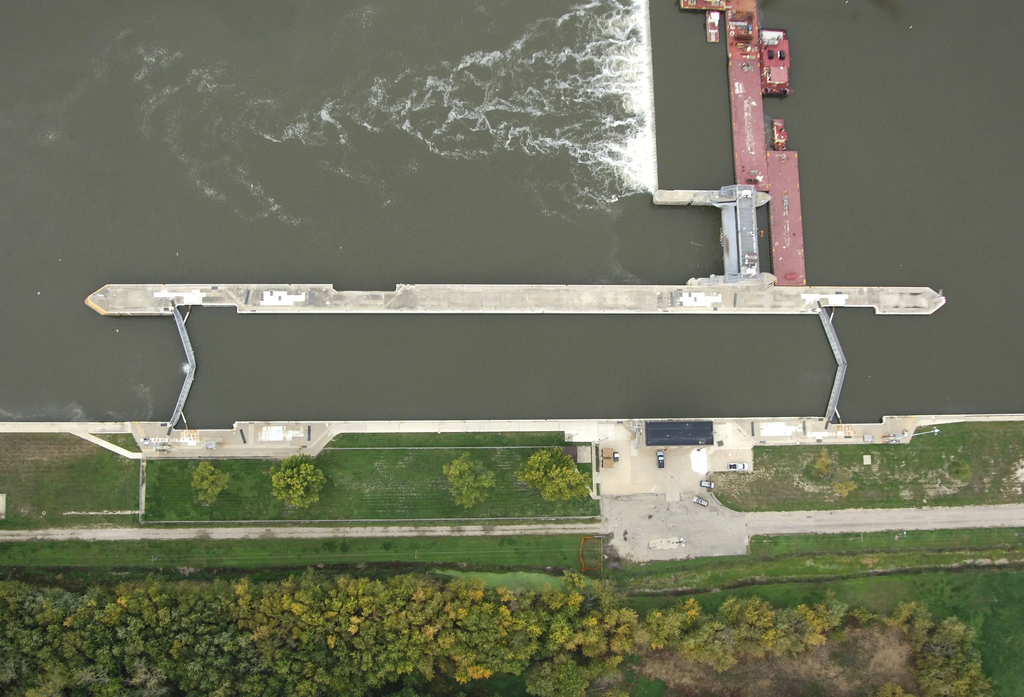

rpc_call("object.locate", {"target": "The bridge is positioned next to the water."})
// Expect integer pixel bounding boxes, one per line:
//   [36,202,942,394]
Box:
[732,183,760,281]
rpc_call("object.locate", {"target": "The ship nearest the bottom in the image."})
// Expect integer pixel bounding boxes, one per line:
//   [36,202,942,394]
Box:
[766,151,806,286]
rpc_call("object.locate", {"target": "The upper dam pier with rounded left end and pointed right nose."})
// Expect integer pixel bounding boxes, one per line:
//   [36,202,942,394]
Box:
[650,189,772,209]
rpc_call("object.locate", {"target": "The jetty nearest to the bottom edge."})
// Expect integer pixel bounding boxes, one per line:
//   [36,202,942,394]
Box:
[683,272,776,291]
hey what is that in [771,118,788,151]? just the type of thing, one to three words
boat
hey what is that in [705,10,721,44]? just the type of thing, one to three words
boat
